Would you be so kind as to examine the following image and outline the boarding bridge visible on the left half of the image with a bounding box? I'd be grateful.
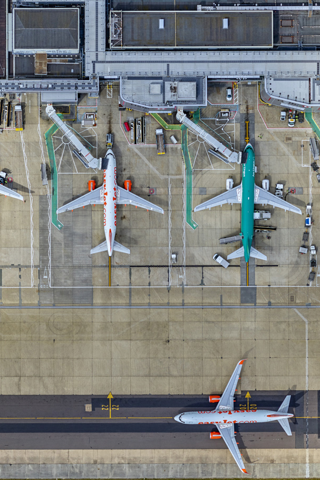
[44,106,107,171]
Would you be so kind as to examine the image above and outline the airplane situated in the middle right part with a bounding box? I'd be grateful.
[197,143,303,262]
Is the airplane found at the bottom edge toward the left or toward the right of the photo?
right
